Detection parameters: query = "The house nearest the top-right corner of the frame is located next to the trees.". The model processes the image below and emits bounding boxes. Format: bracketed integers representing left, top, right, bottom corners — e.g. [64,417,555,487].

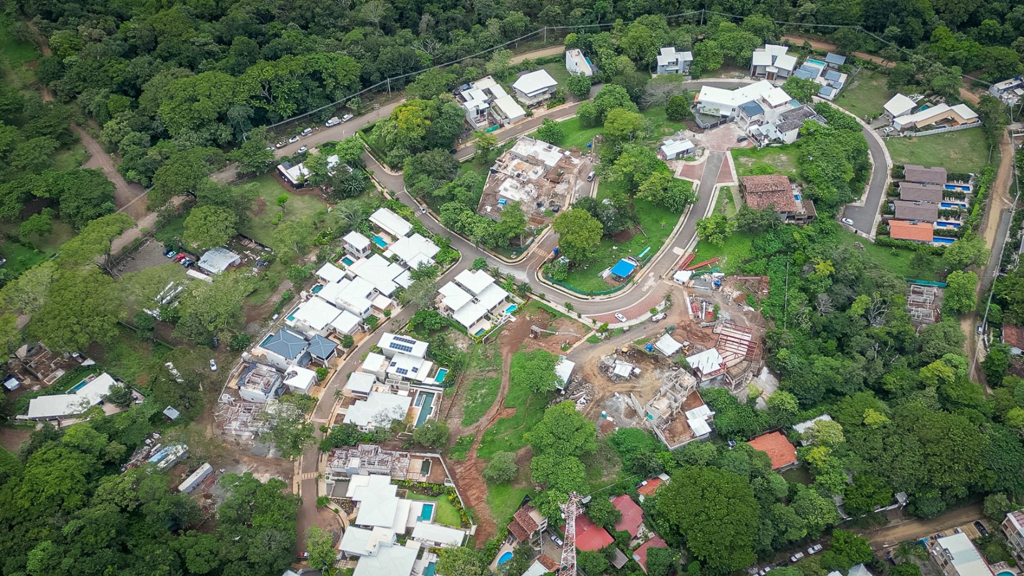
[987,75,1024,106]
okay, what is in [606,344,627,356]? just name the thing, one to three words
vehicle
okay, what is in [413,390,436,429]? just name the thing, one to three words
swimming pool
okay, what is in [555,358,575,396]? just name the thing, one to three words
shed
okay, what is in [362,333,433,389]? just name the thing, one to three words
house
